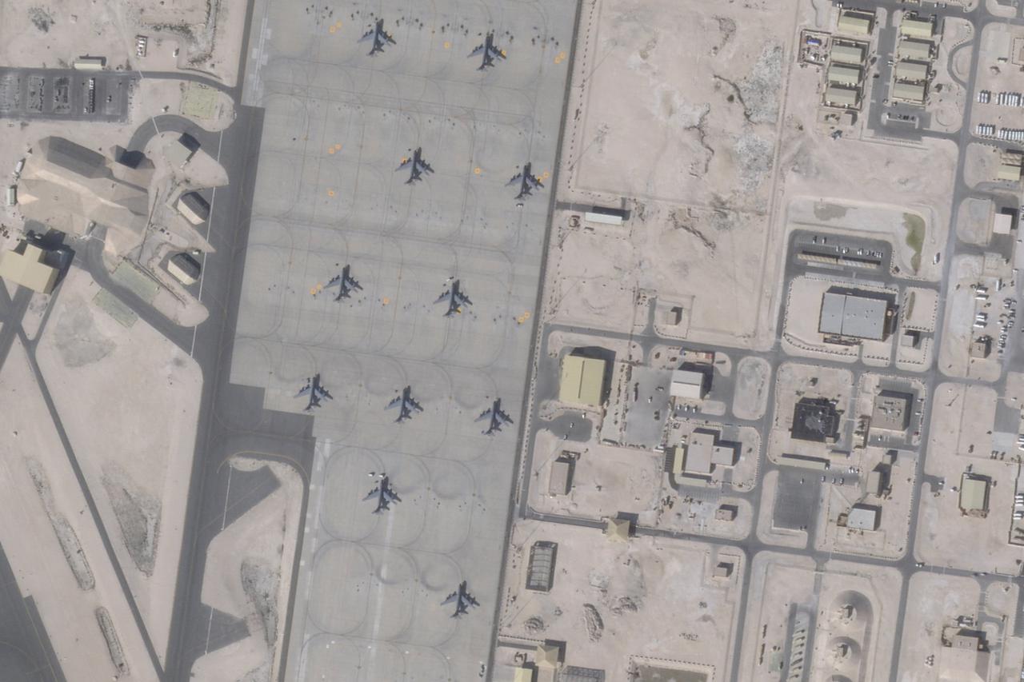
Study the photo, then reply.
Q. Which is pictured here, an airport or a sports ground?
airport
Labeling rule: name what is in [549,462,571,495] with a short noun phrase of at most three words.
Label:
building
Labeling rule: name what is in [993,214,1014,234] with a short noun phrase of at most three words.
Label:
building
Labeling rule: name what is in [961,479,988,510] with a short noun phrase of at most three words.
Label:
house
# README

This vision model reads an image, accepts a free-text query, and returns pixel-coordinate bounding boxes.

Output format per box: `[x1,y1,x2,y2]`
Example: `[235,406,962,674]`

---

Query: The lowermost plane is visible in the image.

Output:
[441,585,474,619]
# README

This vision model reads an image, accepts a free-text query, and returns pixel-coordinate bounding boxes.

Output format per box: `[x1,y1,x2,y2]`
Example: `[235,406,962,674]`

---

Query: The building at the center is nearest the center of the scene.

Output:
[557,354,610,407]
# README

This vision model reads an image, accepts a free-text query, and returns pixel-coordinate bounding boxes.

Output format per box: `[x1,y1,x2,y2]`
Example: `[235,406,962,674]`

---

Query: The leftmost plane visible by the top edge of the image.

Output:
[359,21,391,54]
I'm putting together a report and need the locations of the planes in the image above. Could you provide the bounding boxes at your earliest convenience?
[363,480,396,514]
[385,389,418,423]
[325,268,357,302]
[441,585,474,619]
[505,166,538,199]
[434,283,466,316]
[474,402,508,435]
[359,21,391,54]
[468,38,501,71]
[395,150,428,183]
